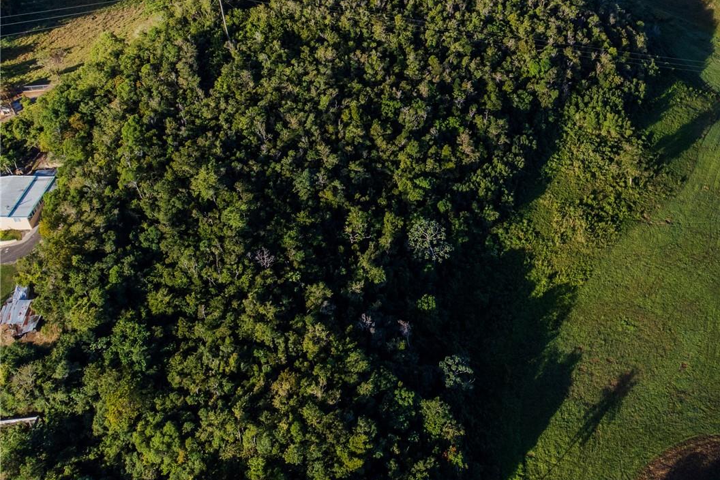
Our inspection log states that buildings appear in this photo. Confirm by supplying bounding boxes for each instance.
[0,281,36,337]
[0,170,58,231]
